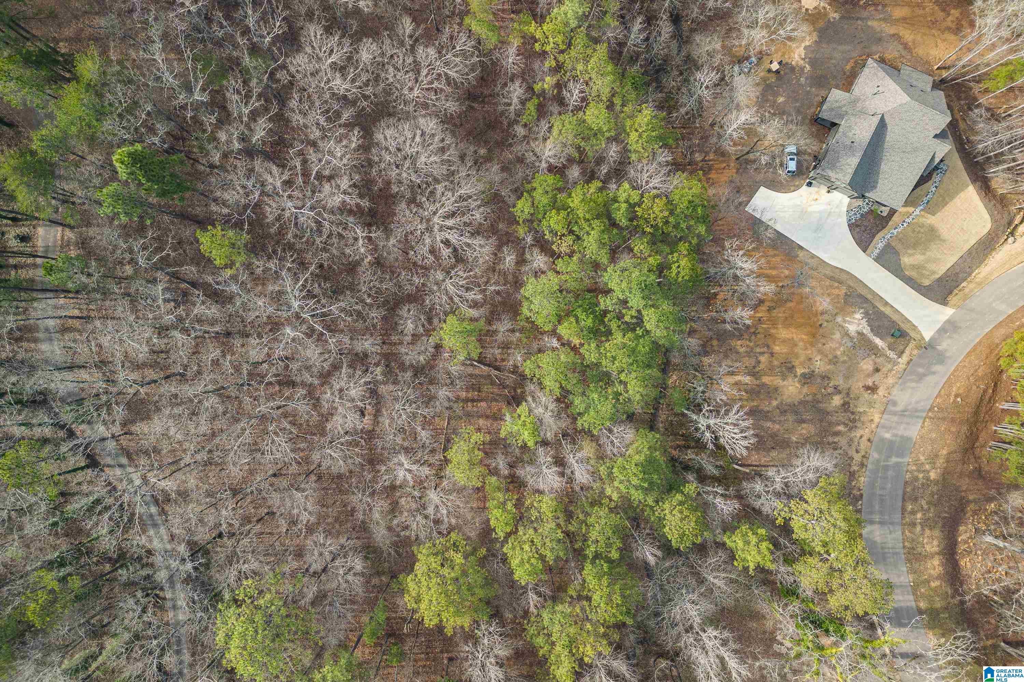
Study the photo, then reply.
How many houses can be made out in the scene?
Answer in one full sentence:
The picture shows 1 house.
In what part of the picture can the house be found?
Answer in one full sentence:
The house is located in the top right region of the scene.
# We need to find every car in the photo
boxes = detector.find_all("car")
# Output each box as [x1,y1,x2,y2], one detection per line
[784,144,801,176]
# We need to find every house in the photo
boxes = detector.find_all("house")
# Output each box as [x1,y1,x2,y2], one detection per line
[805,57,953,212]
